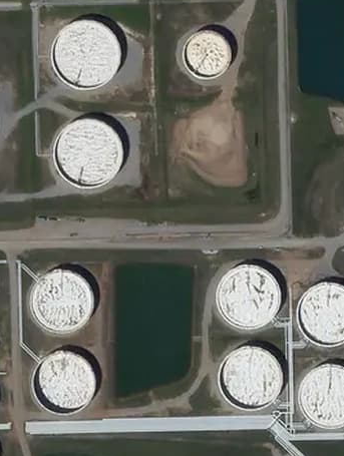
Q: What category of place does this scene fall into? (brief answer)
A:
industrial area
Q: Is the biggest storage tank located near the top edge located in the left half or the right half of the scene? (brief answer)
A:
left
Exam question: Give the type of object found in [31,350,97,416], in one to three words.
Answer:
storage tank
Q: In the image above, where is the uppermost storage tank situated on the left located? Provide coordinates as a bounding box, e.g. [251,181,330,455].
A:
[50,19,122,91]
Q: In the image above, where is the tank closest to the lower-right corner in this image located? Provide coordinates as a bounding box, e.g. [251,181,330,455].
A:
[297,363,344,430]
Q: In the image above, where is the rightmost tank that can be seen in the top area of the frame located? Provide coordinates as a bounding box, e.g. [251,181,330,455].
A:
[181,29,232,80]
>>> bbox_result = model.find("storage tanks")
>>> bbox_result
[215,264,282,331]
[297,363,344,430]
[31,350,97,416]
[181,29,232,80]
[31,269,94,332]
[53,118,125,189]
[50,19,122,91]
[217,344,285,412]
[296,281,344,348]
